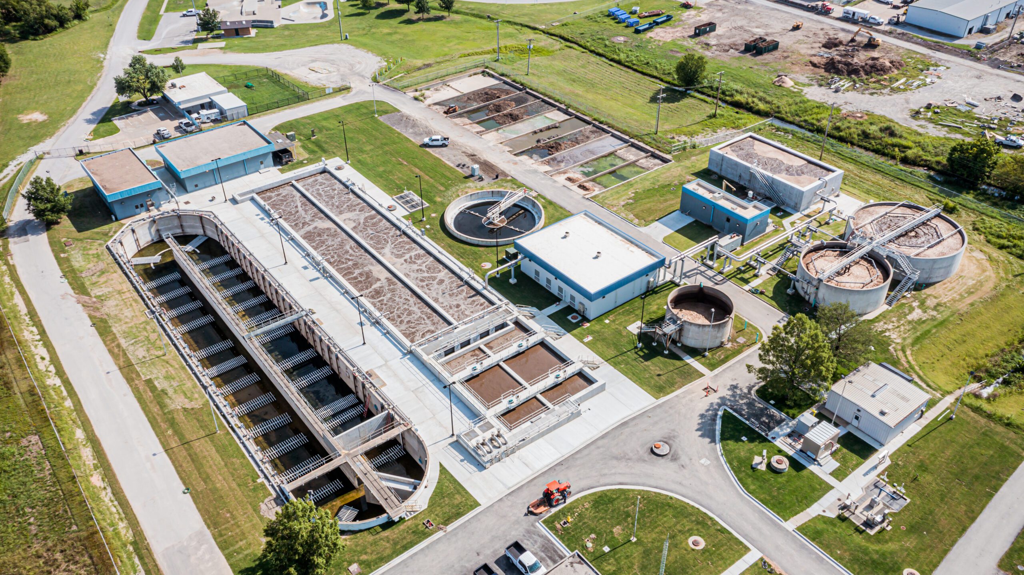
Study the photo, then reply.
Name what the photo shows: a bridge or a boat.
bridge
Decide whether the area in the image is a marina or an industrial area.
industrial area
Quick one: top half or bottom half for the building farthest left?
top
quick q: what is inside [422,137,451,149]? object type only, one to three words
vehicle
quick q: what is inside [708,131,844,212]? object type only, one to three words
storage tank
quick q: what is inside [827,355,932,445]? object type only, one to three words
building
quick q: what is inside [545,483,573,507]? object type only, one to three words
work vehicle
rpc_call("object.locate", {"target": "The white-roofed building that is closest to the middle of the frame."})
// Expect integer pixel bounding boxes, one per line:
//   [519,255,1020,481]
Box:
[514,210,665,319]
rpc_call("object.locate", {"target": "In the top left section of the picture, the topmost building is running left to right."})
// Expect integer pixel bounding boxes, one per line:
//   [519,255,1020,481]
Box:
[219,20,258,35]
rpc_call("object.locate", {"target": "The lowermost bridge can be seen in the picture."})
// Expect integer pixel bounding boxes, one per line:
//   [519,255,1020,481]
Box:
[348,455,406,519]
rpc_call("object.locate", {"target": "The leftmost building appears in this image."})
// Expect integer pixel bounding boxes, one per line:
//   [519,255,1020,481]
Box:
[81,147,165,219]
